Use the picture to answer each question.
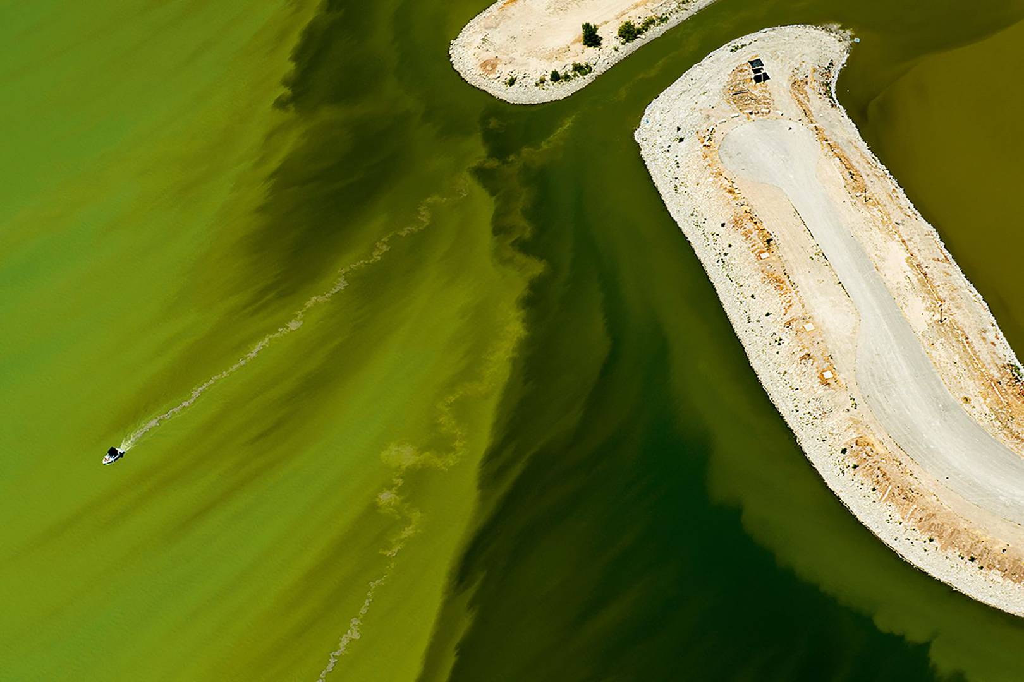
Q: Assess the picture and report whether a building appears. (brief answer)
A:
No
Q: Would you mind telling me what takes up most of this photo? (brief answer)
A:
water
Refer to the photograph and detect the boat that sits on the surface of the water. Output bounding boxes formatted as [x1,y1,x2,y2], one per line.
[103,447,124,464]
